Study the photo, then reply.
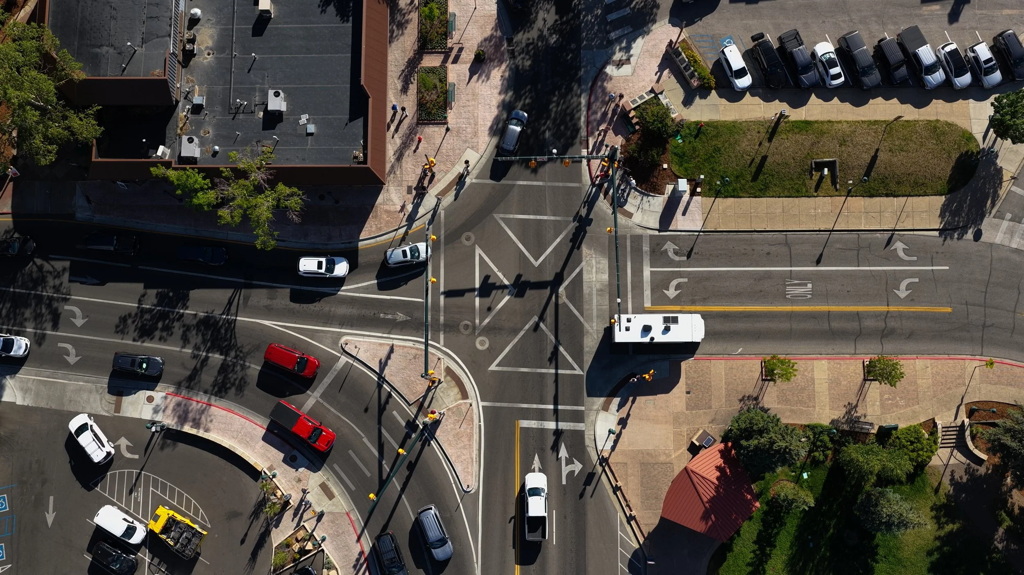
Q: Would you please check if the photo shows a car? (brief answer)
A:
Yes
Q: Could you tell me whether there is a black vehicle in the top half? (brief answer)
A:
Yes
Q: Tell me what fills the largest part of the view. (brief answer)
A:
paved ground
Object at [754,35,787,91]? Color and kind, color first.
black car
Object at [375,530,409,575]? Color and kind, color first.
black car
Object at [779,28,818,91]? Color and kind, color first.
black truck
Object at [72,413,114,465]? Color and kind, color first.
white car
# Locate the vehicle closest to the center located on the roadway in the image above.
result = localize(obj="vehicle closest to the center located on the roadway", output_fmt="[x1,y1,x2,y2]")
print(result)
[383,240,432,269]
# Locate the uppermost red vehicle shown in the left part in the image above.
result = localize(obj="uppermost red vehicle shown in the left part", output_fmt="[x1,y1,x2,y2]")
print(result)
[262,344,323,378]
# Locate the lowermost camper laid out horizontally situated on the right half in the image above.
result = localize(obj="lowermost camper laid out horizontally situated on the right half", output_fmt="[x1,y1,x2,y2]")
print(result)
[610,310,708,346]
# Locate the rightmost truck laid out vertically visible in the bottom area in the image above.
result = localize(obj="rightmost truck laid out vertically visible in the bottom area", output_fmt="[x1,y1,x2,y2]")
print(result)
[523,473,550,542]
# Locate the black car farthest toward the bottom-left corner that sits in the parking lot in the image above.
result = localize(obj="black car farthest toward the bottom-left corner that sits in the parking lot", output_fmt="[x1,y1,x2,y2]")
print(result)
[92,539,140,575]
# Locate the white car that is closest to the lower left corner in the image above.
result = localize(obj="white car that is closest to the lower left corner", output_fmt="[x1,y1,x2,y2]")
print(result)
[95,502,149,544]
